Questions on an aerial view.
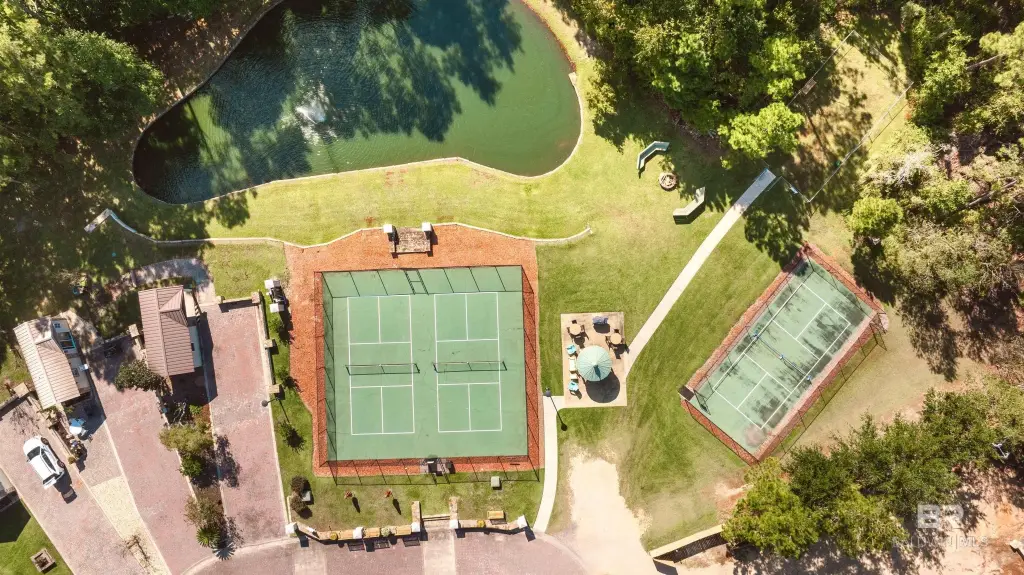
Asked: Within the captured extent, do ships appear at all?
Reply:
No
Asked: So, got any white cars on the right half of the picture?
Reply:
No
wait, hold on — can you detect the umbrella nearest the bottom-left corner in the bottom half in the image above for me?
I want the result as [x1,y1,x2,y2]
[68,418,91,435]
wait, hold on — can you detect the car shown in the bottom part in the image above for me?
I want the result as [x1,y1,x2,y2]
[25,438,64,493]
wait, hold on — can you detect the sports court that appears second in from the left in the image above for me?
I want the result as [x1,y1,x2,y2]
[421,266,527,459]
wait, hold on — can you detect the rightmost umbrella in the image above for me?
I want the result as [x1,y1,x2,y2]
[575,344,613,381]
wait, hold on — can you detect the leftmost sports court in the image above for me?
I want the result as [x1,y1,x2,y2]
[321,269,427,462]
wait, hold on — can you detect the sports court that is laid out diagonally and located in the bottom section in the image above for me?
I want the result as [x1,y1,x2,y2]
[689,256,873,458]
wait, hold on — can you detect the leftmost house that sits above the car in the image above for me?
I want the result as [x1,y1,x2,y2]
[12,314,95,412]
